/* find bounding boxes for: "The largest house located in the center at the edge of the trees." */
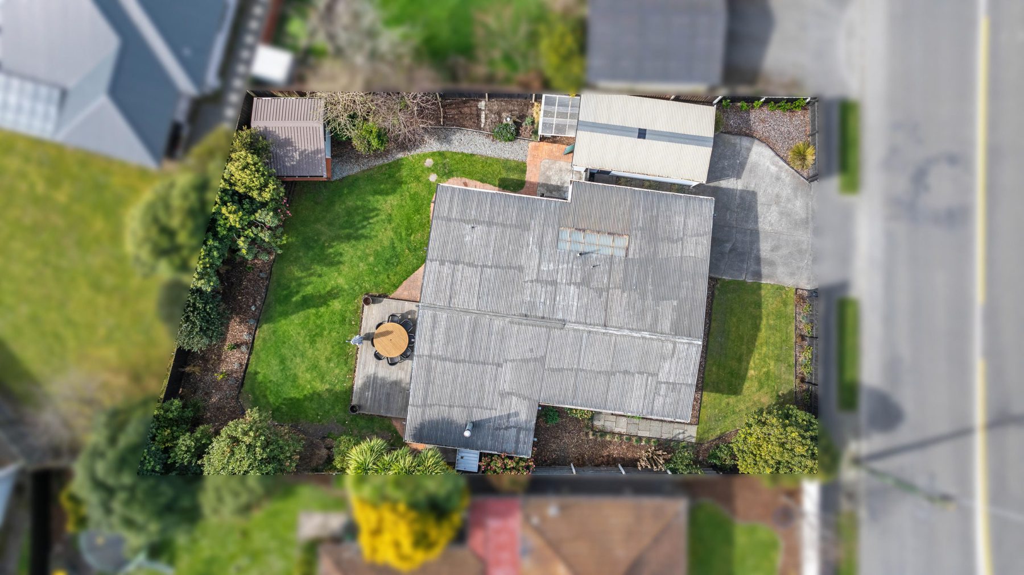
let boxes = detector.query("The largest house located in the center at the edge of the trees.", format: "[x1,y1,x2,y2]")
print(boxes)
[401,177,718,460]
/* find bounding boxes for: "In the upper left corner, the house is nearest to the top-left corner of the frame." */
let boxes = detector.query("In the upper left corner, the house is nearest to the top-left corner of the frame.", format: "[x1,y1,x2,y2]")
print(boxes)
[0,0,232,170]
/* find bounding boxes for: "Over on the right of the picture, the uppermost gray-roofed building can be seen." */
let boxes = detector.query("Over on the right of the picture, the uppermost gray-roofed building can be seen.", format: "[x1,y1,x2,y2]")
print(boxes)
[588,0,726,94]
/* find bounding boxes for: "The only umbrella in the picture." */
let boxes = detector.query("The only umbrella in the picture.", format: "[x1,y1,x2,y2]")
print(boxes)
[346,332,362,347]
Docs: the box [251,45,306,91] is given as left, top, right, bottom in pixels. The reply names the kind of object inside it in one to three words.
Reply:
shed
